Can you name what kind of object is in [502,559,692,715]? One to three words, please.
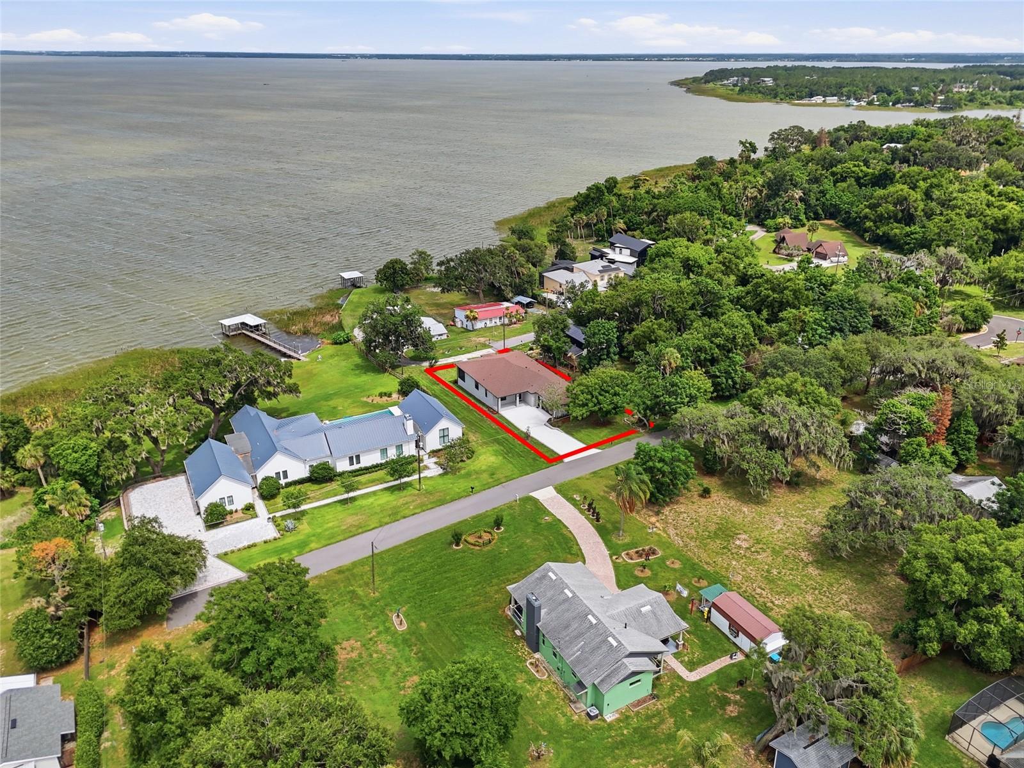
building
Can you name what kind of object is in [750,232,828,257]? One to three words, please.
house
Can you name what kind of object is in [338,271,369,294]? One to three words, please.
building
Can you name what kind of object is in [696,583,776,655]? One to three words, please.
shed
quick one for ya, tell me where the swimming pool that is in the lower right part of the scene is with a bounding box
[976,707,1024,756]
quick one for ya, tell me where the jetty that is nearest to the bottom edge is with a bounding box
[216,312,309,362]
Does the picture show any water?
Yes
